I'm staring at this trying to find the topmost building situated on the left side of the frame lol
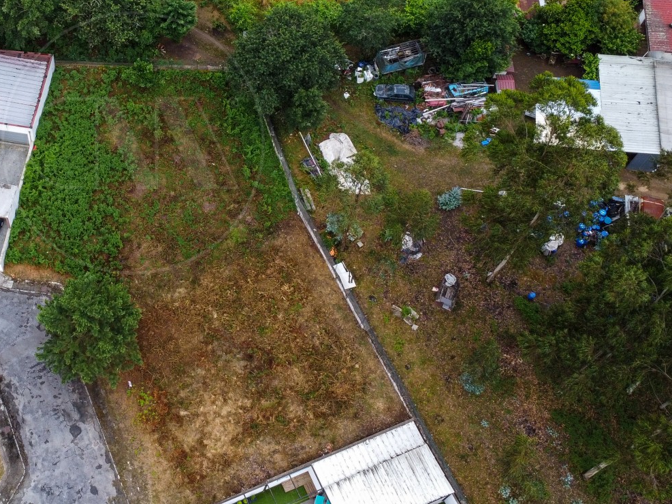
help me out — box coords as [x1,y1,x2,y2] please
[0,49,57,147]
